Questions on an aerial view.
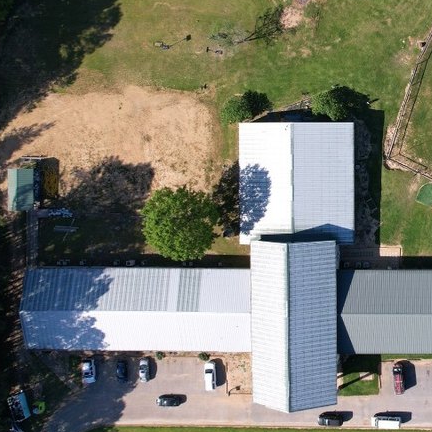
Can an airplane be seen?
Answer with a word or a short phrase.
No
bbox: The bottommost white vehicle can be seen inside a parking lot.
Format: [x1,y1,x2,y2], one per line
[372,415,403,431]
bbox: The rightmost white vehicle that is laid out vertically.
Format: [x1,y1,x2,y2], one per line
[202,363,217,396]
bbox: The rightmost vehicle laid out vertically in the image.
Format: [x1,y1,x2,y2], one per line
[393,363,407,397]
